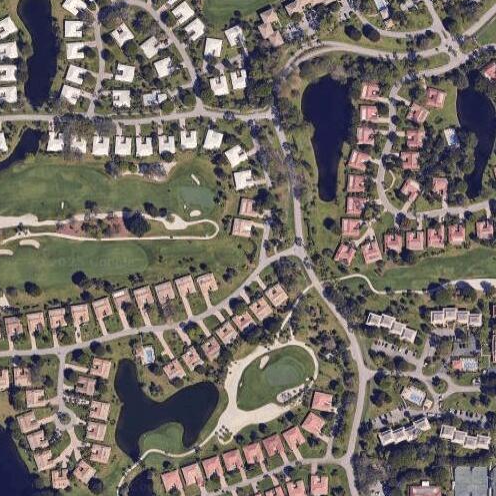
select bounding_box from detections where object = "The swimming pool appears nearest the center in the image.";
[143,346,155,363]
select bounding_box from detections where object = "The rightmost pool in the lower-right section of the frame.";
[464,357,478,371]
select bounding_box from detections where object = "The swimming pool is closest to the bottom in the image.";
[402,385,426,406]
